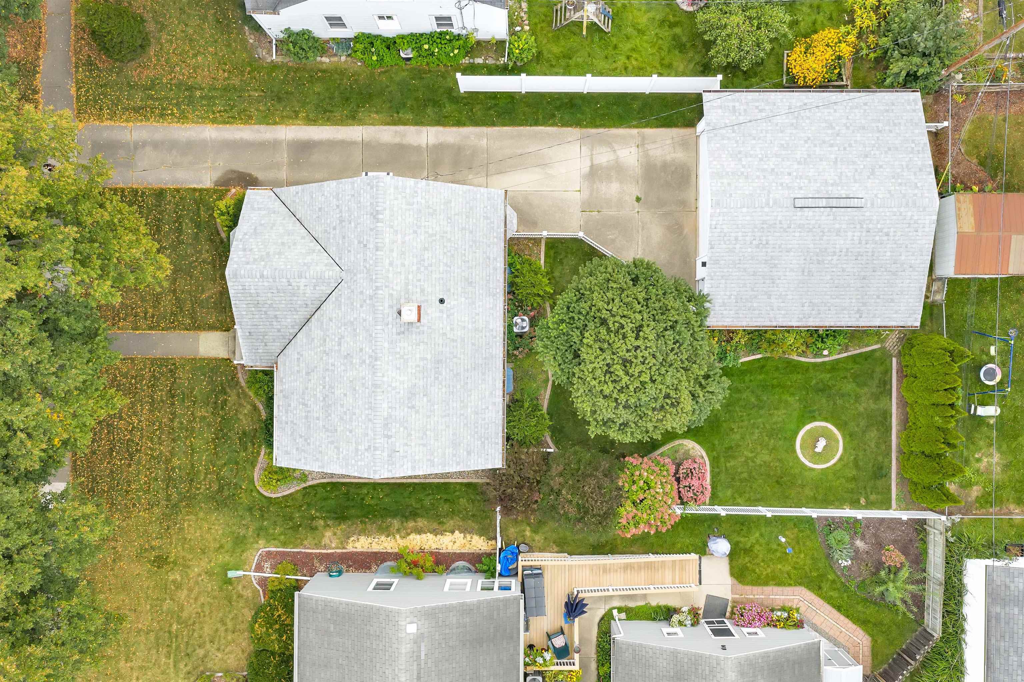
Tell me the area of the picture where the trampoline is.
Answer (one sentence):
Look in the right portion of the view to spot the trampoline.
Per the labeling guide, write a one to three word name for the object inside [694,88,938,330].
building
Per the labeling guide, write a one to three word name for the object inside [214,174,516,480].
house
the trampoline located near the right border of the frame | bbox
[980,364,1001,385]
